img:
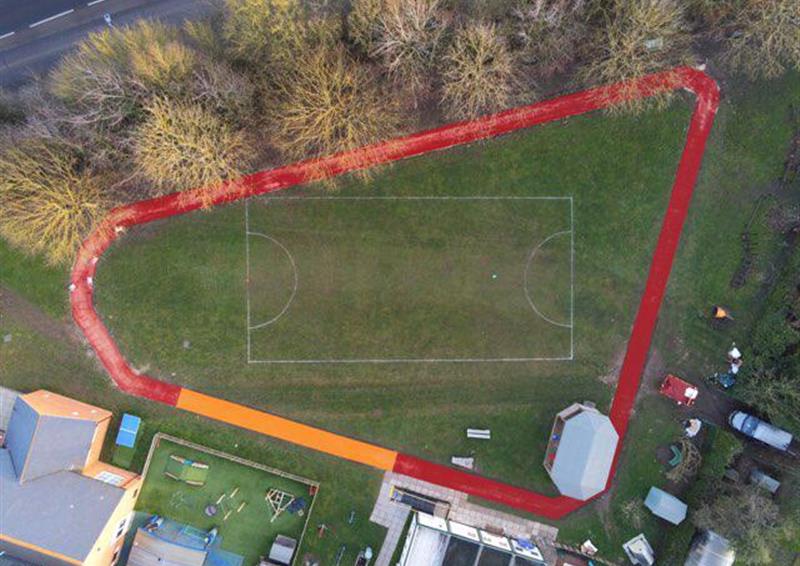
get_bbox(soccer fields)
[243,194,573,367]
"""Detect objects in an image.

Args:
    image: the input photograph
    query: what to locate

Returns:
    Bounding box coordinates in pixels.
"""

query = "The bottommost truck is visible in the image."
[723,405,795,454]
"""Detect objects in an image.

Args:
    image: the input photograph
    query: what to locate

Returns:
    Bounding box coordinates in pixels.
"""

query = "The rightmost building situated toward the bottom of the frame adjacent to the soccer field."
[544,406,619,500]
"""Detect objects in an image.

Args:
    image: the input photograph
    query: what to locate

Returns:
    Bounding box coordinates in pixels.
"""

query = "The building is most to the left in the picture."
[0,389,141,566]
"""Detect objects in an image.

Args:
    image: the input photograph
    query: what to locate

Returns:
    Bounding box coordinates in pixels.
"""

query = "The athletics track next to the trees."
[69,65,720,521]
